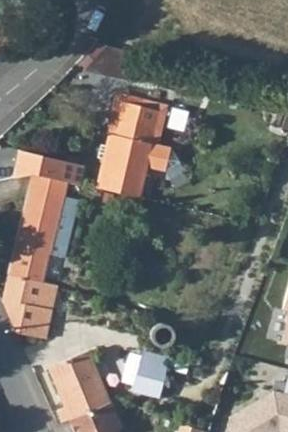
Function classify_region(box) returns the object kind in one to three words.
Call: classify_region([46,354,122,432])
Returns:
house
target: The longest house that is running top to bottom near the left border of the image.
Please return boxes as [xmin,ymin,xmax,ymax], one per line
[0,150,83,340]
